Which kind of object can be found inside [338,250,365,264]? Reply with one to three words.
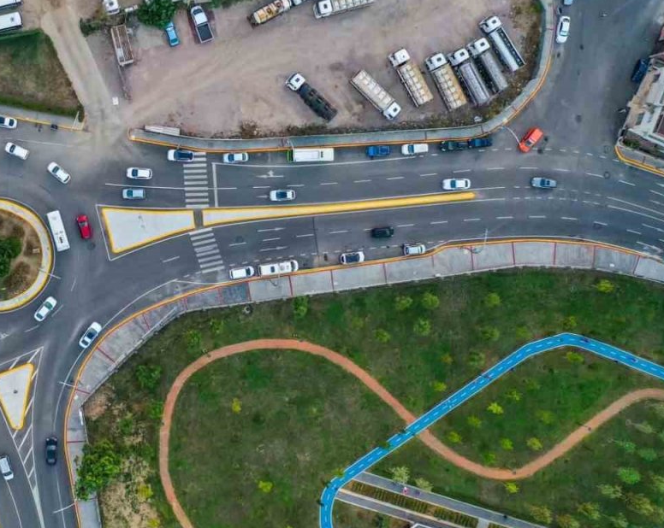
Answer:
vehicle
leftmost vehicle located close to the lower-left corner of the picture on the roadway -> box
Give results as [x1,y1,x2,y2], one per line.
[0,453,16,482]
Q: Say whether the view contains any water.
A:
No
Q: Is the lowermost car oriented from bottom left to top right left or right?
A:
left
